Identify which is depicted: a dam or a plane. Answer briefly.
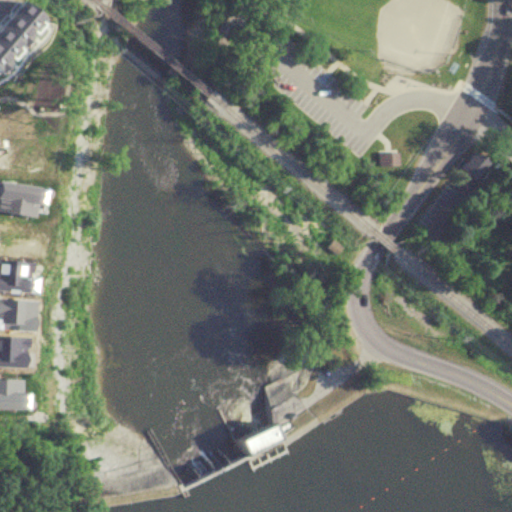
dam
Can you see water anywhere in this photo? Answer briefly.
Yes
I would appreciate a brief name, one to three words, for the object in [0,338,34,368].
house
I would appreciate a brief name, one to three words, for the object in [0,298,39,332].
house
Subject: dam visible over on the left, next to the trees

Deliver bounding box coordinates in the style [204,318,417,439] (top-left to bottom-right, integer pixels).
[97,428,252,506]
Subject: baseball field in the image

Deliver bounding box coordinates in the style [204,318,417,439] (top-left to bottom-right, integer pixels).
[377,0,463,76]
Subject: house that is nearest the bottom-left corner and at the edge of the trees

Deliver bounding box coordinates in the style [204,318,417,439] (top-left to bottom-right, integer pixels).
[0,380,46,424]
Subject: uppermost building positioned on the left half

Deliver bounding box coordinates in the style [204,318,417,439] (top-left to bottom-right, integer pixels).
[0,0,52,86]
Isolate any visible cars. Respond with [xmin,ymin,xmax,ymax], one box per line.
[280,84,295,91]
[318,90,332,97]
[360,294,367,308]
